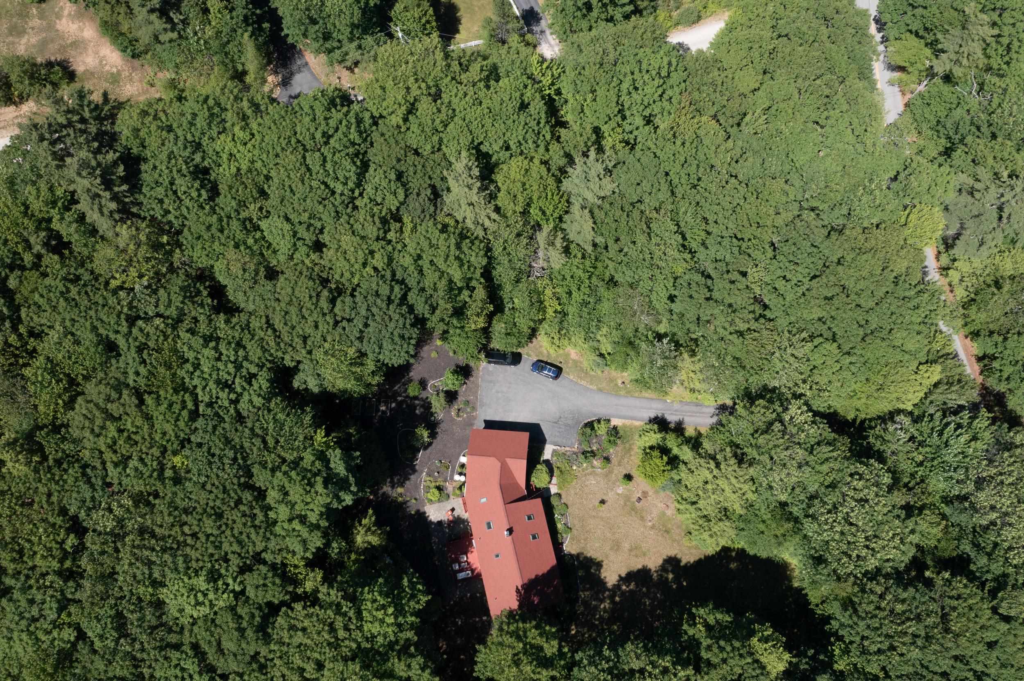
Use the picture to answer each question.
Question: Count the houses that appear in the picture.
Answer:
1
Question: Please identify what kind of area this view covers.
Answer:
forest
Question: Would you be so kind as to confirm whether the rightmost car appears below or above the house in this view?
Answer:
above it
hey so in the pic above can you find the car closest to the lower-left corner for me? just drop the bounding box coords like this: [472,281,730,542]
[486,351,523,368]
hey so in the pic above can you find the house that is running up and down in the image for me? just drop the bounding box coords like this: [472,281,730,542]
[463,429,571,626]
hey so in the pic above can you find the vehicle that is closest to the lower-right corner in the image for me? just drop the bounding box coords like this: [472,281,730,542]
[529,362,562,383]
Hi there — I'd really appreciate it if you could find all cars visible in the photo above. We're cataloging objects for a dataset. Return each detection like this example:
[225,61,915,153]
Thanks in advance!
[529,362,562,383]
[486,351,523,368]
